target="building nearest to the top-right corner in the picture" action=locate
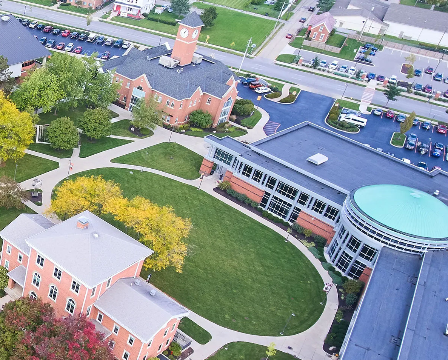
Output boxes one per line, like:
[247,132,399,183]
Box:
[386,6,448,46]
